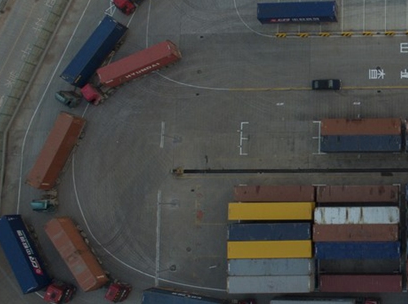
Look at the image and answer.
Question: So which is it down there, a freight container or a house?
freight container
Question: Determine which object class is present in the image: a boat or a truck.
truck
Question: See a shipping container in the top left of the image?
Yes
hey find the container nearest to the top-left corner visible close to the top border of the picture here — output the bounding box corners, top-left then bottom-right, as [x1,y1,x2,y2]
[59,13,126,90]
